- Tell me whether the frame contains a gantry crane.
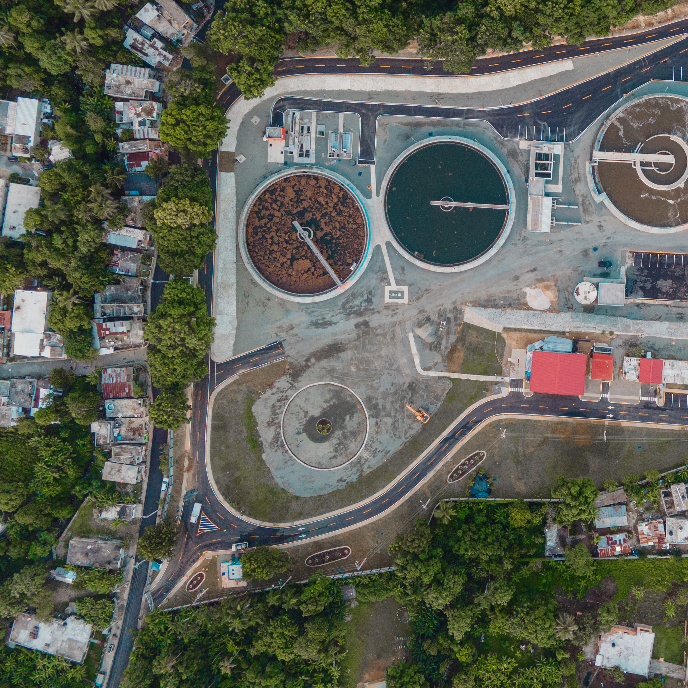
No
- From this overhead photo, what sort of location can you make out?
residential area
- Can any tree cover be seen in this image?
Yes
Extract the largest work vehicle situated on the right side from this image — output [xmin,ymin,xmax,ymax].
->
[405,401,432,425]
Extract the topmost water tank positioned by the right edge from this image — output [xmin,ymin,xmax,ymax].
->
[586,92,688,232]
